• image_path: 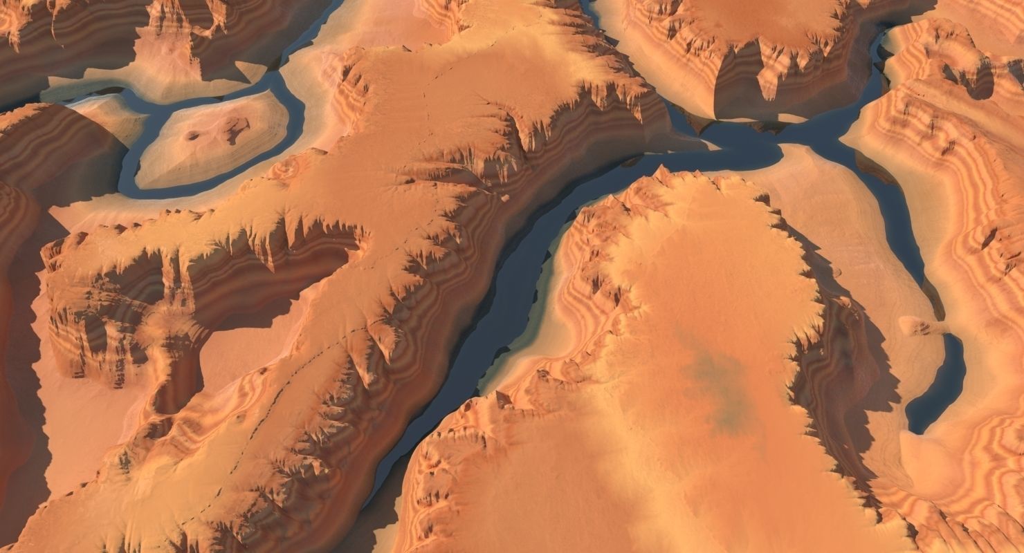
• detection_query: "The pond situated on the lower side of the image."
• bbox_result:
[907,335,966,433]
